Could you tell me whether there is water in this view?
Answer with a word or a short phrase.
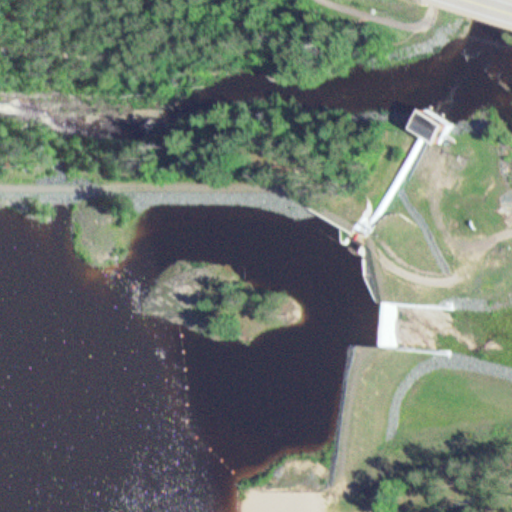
Yes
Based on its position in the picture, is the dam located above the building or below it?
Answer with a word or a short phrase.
below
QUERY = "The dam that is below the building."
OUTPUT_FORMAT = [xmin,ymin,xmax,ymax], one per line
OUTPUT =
[0,190,454,487]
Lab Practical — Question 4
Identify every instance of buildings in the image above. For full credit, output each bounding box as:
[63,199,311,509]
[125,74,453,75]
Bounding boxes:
[404,108,456,150]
